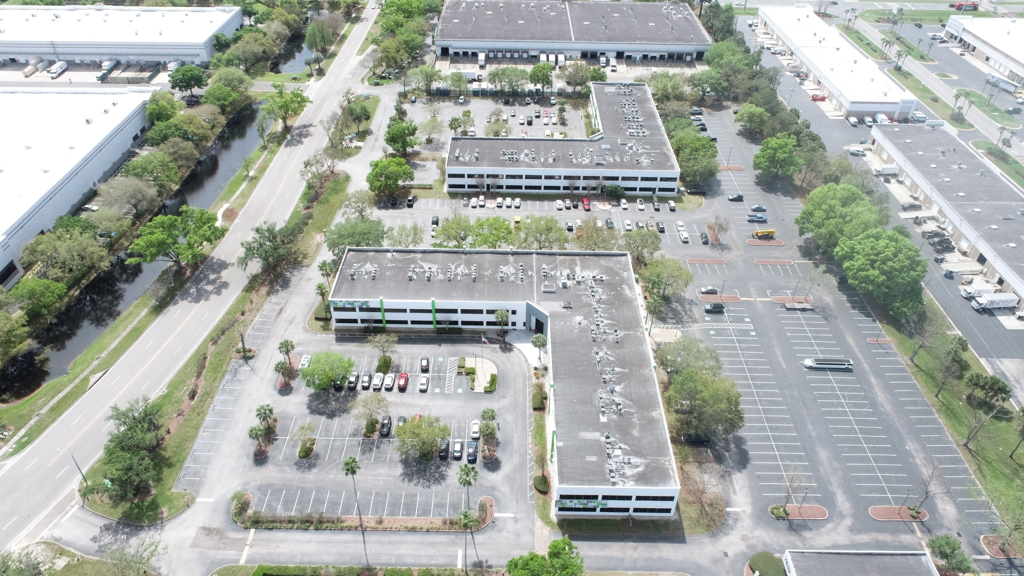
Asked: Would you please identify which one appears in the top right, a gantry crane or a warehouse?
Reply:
warehouse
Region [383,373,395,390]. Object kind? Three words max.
vehicle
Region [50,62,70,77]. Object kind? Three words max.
vehicle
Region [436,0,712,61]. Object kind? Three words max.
building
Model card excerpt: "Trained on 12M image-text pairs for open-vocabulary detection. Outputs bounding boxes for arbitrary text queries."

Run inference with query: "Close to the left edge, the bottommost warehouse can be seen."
[0,85,165,279]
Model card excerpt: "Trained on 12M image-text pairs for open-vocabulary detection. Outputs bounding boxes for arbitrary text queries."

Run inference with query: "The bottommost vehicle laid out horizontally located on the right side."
[683,432,709,444]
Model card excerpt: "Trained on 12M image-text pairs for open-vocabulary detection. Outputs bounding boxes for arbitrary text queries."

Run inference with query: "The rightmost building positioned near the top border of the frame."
[940,20,1024,88]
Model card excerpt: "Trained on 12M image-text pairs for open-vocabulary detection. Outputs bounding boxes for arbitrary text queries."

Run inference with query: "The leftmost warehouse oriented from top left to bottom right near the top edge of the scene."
[751,0,930,121]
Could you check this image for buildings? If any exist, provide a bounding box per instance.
[775,549,938,576]
[445,82,680,194]
[867,119,1024,318]
[436,0,712,61]
[751,0,930,121]
[329,247,681,516]
[940,20,1024,88]
[0,85,165,279]
[0,2,245,63]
